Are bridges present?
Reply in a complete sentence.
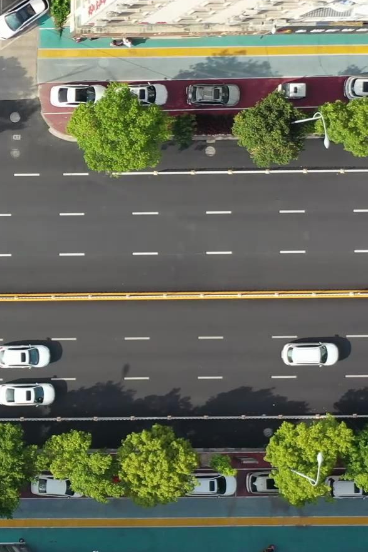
No, no bridge is visible in the view.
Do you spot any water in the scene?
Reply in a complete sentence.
No, water can't be seen anywhere here.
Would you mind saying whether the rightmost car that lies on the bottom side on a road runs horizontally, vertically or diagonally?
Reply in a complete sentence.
The rightmost car that lies on the bottom side on a road is laid out horizontally.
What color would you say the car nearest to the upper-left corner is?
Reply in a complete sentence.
The color of the car nearest to the upper-left corner is white.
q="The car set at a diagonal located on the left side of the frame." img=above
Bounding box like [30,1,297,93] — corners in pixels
[0,0,49,41]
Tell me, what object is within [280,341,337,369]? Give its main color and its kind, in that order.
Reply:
white car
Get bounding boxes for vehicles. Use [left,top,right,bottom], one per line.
[323,476,368,503]
[0,0,49,41]
[0,381,54,409]
[280,341,337,369]
[266,544,277,552]
[243,471,289,496]
[29,473,80,499]
[181,472,236,500]
[48,82,103,109]
[183,80,239,109]
[343,75,368,101]
[113,81,167,107]
[0,343,48,370]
